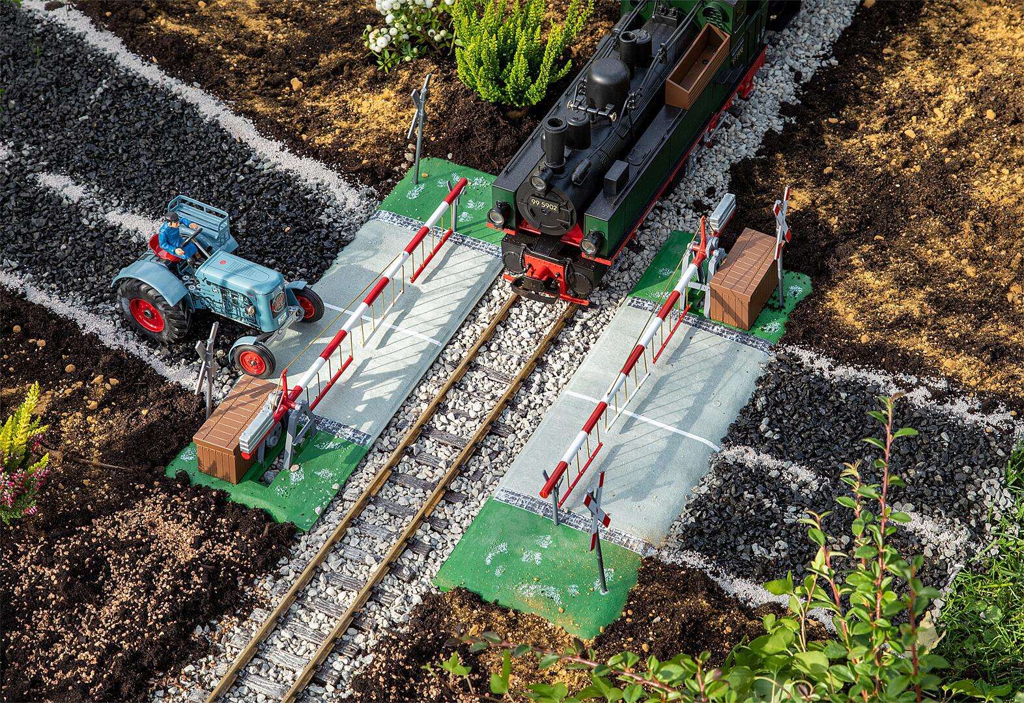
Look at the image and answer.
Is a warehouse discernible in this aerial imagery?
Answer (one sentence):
No, the picture doesn't show any warehouse.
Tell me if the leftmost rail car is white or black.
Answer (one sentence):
The color of the leftmost rail car is black.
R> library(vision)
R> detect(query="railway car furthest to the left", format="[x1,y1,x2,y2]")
[486,0,768,312]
